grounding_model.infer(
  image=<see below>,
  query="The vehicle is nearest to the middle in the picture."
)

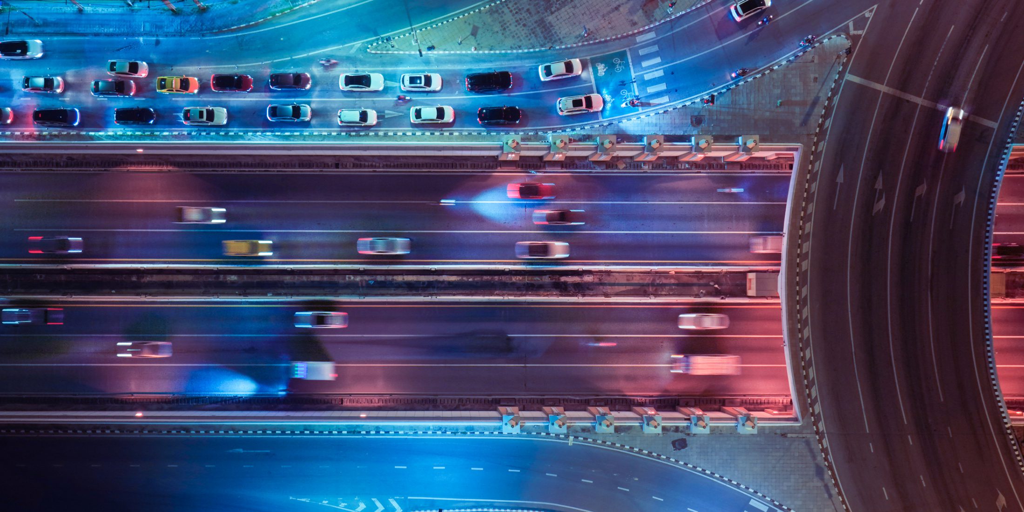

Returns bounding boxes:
[520,240,564,260]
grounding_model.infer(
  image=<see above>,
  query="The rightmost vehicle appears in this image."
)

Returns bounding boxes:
[995,241,1024,261]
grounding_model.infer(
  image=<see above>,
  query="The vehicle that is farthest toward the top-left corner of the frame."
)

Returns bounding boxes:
[0,38,44,59]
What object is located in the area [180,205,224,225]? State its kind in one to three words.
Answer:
vehicle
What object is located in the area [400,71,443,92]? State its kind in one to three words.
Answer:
car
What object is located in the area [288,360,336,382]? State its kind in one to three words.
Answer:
truck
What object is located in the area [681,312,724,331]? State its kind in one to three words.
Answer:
car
